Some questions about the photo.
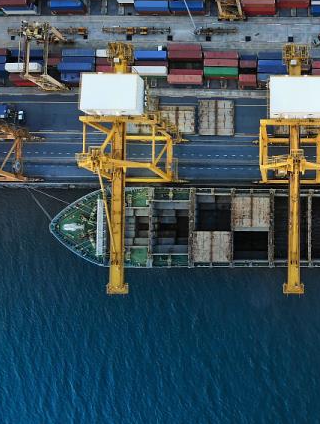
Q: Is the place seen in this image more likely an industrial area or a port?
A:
port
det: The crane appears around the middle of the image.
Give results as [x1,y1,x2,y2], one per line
[80,40,190,299]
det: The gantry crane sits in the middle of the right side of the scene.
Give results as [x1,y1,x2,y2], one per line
[248,40,320,299]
